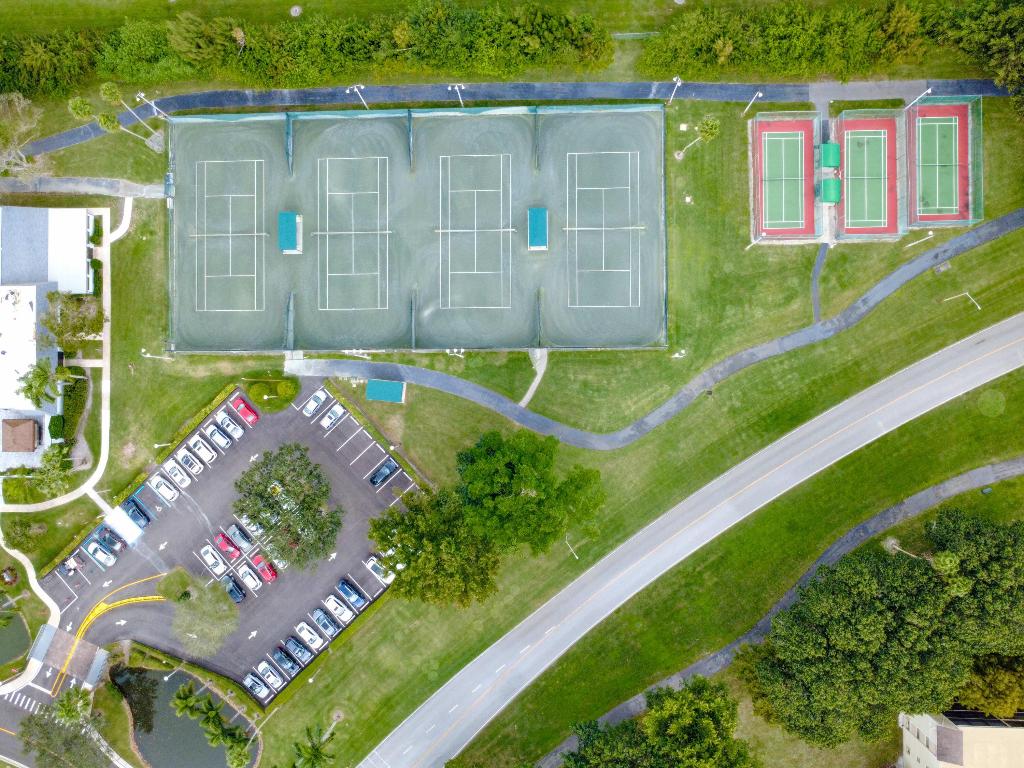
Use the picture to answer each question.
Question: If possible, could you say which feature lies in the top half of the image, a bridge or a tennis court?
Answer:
tennis court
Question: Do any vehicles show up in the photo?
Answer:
Yes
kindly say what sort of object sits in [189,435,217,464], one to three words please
car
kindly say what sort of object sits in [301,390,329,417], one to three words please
car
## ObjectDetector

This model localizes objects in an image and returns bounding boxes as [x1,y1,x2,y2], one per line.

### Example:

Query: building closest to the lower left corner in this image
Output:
[2,419,42,452]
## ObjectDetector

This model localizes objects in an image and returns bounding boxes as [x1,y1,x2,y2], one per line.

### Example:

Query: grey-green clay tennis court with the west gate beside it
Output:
[172,117,292,350]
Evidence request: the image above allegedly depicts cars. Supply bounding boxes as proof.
[219,572,247,601]
[340,578,366,607]
[326,593,353,624]
[286,636,310,663]
[97,526,125,555]
[189,435,217,464]
[244,672,270,701]
[213,532,241,561]
[318,403,346,431]
[259,661,283,688]
[297,620,323,650]
[272,646,300,677]
[301,390,329,417]
[314,608,340,637]
[150,474,178,502]
[370,459,396,484]
[164,461,190,489]
[232,396,257,424]
[217,410,243,439]
[251,553,278,582]
[179,449,202,474]
[264,541,291,571]
[367,555,391,582]
[206,425,230,450]
[123,500,150,529]
[228,523,254,551]
[200,545,228,575]
[88,541,114,567]
[238,565,262,591]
